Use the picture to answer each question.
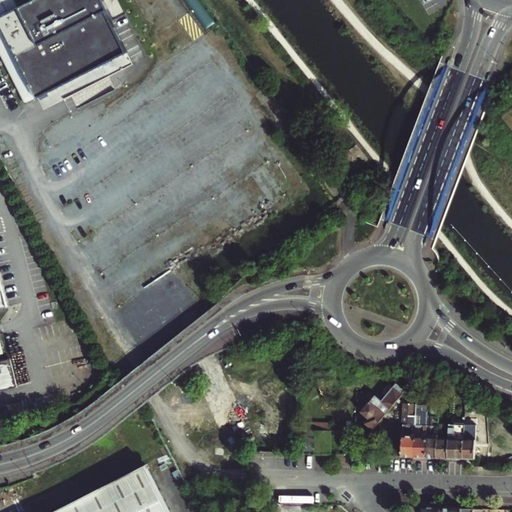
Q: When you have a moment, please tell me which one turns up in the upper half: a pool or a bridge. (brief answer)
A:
bridge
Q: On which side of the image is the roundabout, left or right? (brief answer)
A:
right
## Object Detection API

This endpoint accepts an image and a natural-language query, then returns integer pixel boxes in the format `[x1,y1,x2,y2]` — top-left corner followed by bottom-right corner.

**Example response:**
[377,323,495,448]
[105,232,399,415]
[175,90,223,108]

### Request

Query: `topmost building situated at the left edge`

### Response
[0,0,130,110]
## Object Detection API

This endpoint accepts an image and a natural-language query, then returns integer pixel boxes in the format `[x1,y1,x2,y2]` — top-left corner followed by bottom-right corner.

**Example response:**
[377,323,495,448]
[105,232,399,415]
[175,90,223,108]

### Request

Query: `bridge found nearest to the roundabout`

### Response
[376,50,496,254]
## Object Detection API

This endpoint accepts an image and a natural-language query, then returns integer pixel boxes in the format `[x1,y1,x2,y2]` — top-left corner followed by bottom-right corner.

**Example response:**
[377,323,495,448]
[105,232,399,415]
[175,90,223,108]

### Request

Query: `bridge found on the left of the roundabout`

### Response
[0,308,234,485]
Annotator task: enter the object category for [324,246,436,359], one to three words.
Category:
roundabout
